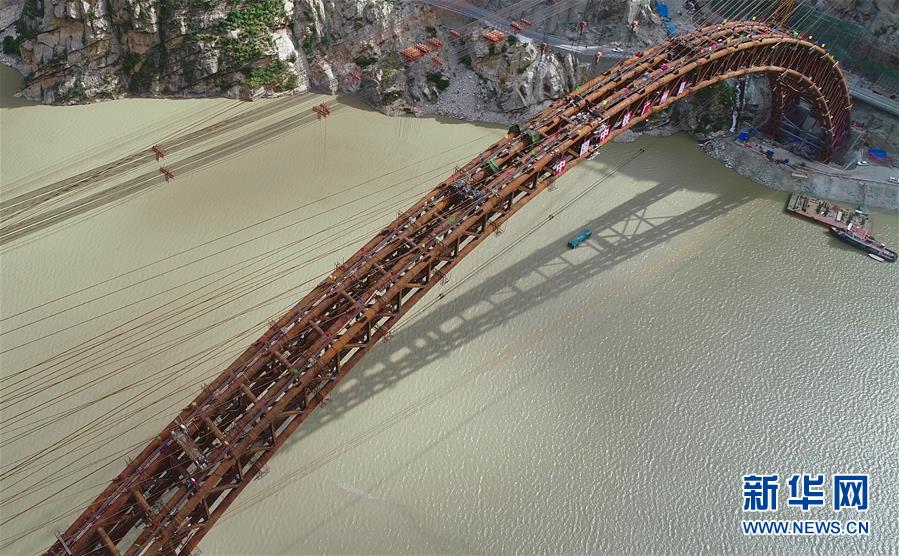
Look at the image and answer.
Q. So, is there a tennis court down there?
No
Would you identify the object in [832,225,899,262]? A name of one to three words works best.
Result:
boat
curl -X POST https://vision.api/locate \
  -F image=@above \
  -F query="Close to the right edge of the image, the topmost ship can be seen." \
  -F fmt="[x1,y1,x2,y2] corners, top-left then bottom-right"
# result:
[788,191,872,235]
